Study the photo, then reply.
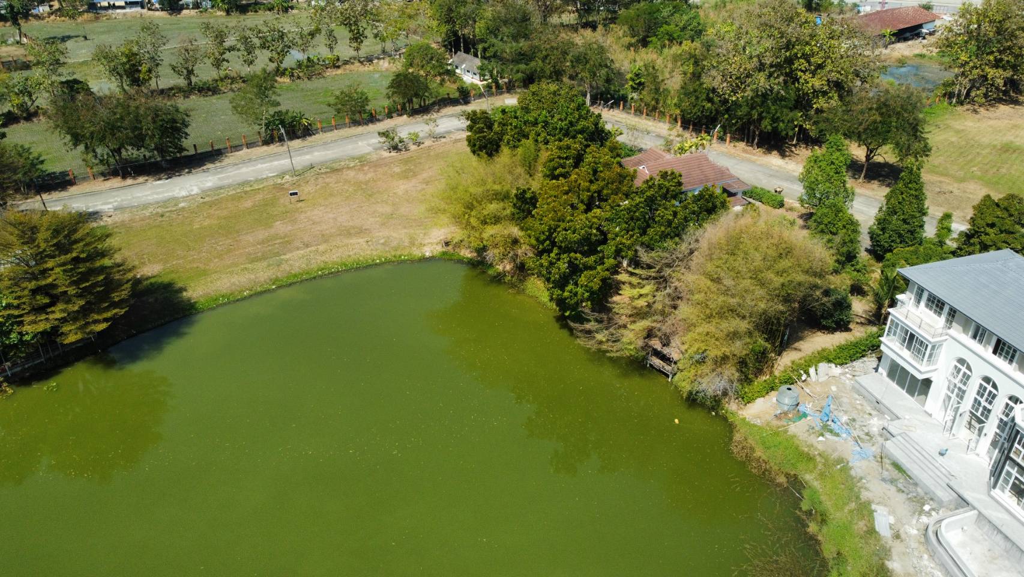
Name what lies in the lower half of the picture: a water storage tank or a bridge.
water storage tank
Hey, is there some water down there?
Yes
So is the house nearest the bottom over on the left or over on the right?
right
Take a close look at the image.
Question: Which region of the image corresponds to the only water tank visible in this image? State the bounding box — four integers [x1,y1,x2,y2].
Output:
[770,390,802,427]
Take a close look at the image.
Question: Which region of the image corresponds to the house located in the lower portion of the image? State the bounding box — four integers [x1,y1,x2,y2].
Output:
[876,248,1024,516]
